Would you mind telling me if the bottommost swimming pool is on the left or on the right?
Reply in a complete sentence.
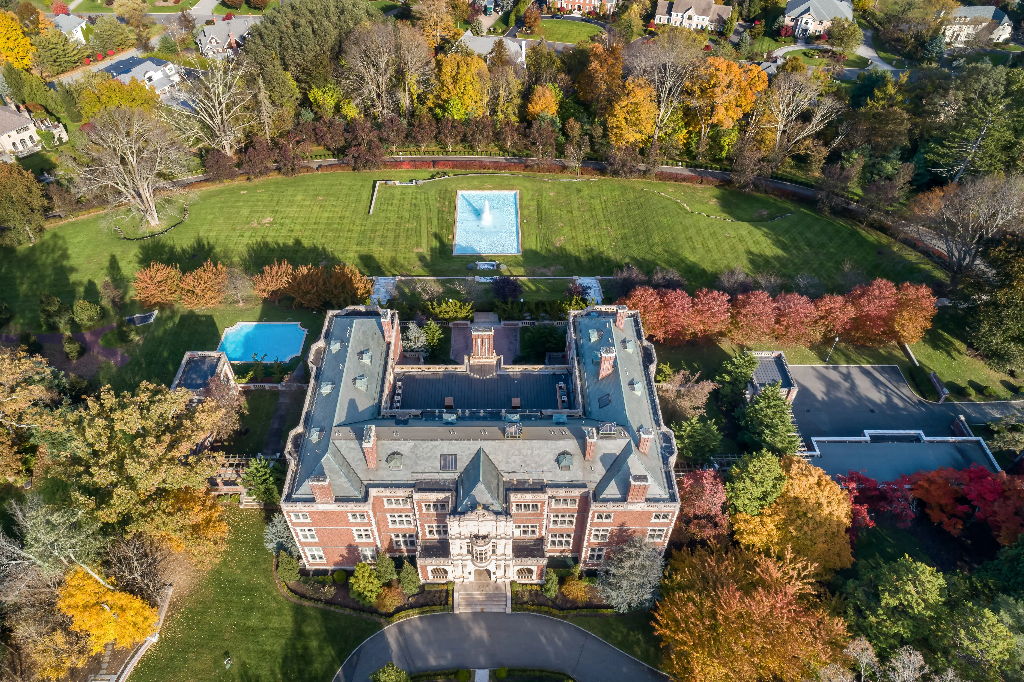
It is on the left.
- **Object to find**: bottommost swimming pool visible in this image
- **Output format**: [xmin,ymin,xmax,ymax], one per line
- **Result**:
[216,322,308,363]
